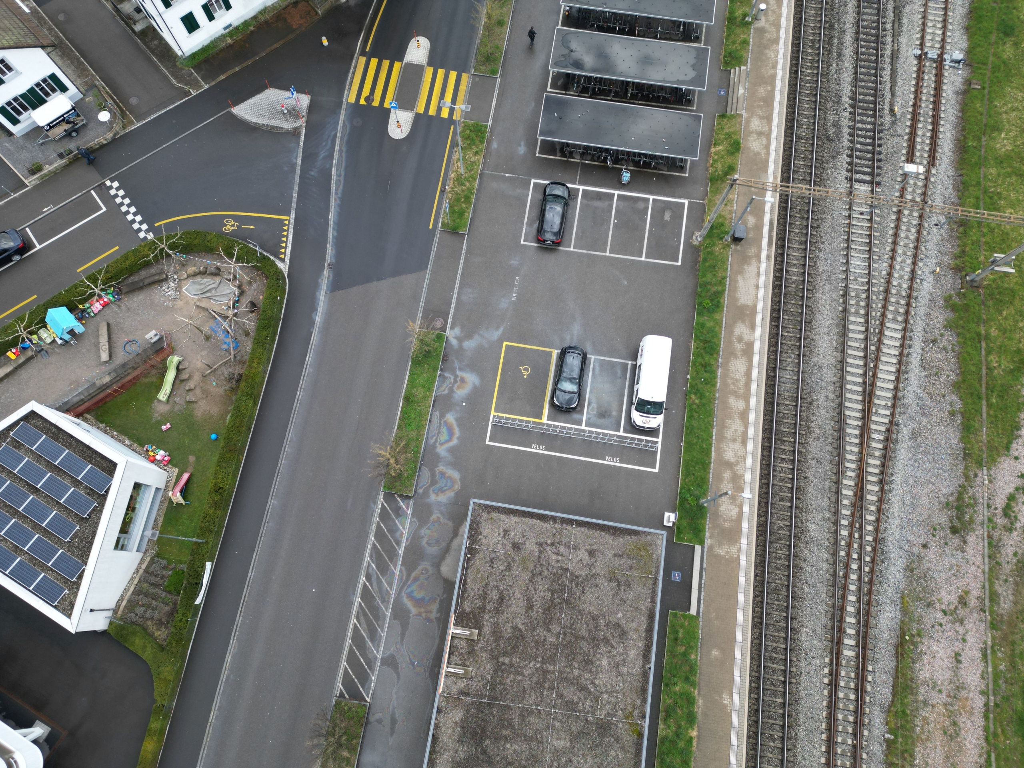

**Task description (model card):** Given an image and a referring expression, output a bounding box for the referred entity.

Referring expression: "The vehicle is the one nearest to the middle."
[549,344,588,413]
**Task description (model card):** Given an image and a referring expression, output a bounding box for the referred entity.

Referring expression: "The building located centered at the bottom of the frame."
[424,499,666,768]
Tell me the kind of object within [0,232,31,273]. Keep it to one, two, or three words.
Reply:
car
